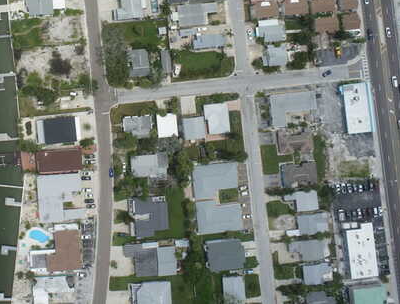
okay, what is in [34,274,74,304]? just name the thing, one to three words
house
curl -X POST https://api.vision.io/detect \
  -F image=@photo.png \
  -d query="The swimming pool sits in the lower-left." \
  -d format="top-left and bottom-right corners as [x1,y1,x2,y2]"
[28,228,50,242]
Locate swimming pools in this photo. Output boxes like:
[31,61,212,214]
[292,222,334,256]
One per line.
[150,0,159,13]
[28,228,50,242]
